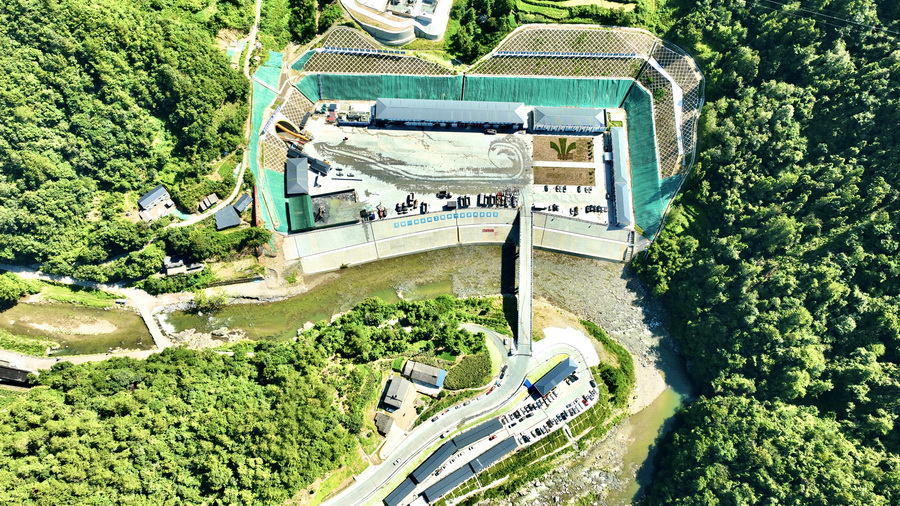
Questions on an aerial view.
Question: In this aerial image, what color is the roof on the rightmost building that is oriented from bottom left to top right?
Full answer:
The color of the roof on the rightmost building that is oriented from bottom left to top right is blue.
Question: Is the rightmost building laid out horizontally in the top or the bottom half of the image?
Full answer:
The rightmost building laid out horizontally is in the top half of the image.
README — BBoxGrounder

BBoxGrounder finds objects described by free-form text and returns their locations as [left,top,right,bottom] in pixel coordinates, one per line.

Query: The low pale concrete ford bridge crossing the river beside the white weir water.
[134,297,171,351]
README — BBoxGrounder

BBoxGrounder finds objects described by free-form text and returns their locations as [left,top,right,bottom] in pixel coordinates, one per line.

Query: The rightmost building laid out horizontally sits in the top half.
[533,107,606,131]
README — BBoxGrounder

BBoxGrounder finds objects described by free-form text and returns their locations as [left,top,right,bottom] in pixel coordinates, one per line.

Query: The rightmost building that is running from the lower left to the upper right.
[534,357,577,395]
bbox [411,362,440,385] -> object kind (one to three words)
house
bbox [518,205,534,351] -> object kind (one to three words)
bridge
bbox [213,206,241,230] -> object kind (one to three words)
barn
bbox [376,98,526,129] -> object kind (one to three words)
building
